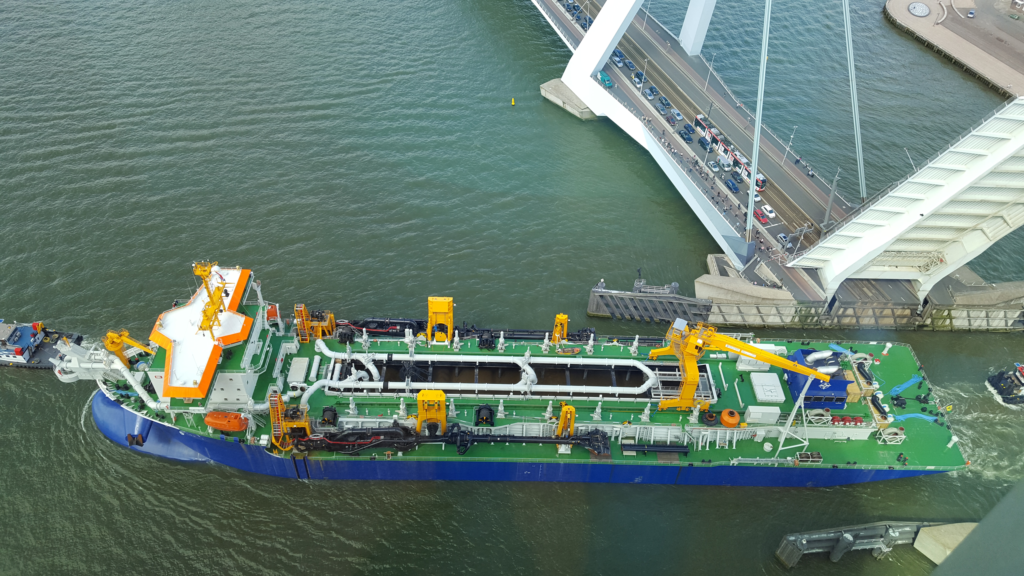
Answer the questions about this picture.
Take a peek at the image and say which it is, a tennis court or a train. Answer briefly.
train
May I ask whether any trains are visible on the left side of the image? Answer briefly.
No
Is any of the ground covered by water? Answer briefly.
Yes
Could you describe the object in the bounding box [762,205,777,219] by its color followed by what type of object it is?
white car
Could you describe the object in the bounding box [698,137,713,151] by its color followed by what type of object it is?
blue car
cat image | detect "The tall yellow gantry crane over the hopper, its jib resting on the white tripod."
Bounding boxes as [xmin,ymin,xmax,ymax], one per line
[639,307,830,417]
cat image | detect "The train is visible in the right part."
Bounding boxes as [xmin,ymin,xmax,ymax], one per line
[698,116,770,192]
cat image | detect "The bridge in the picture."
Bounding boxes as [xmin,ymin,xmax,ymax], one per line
[519,0,860,269]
